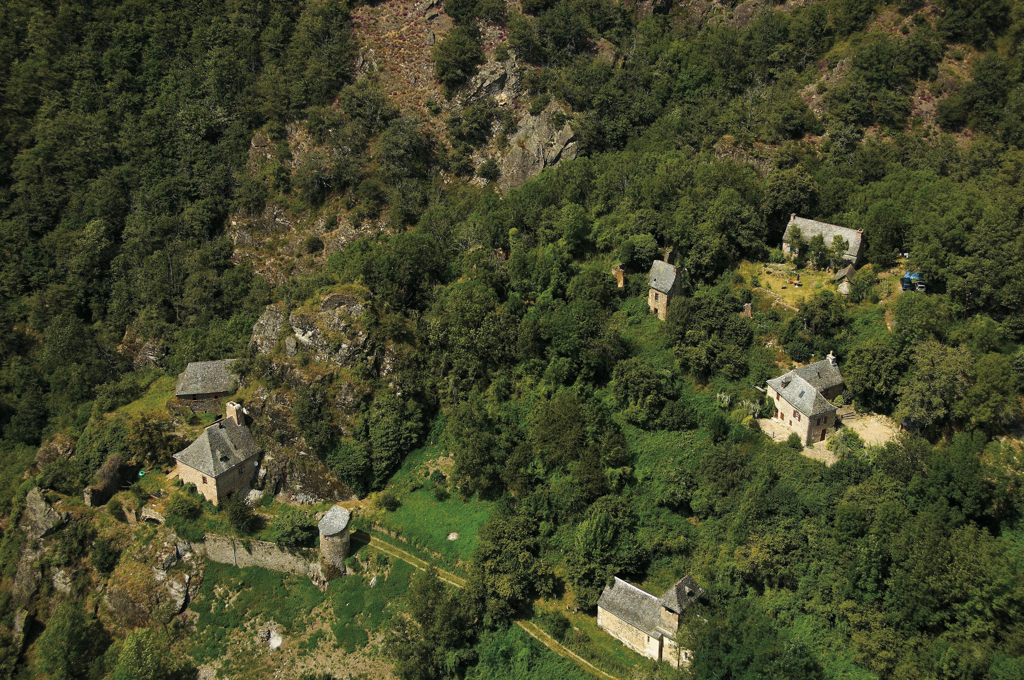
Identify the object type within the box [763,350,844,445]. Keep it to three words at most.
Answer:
house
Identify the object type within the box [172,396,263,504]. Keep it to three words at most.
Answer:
house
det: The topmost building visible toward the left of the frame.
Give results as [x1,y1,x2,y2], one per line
[166,359,233,412]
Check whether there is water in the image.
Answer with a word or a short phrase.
No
